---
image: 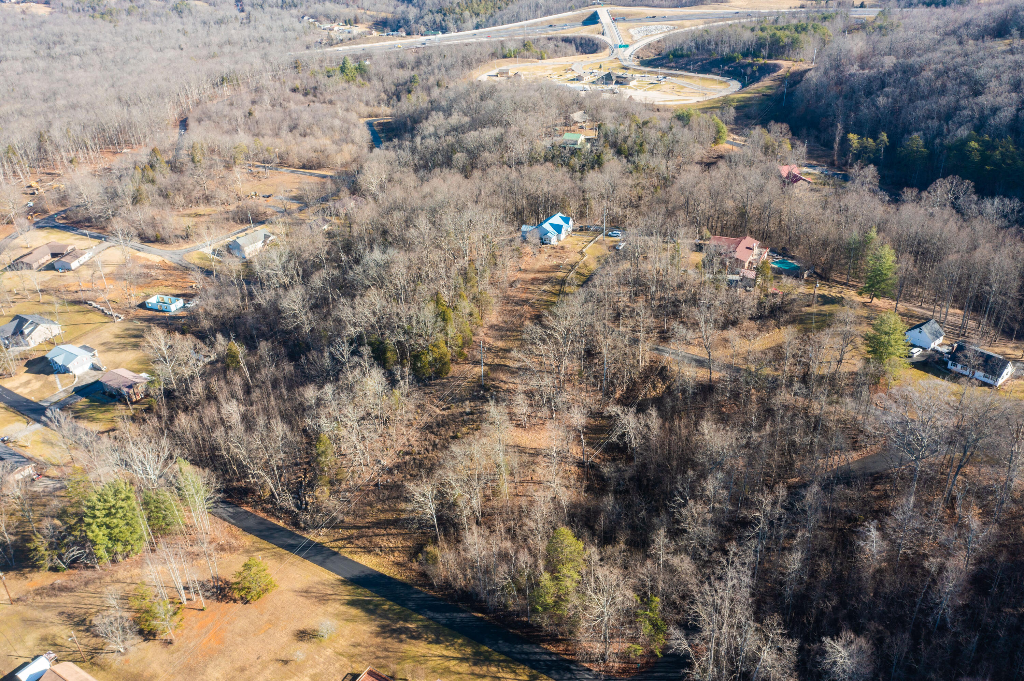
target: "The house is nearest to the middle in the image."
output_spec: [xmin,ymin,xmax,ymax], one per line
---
[520,212,574,248]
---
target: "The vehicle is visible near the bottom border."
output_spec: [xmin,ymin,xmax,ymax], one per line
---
[13,654,62,681]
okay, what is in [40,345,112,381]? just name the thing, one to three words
house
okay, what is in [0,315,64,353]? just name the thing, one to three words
house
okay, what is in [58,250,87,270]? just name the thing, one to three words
shed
